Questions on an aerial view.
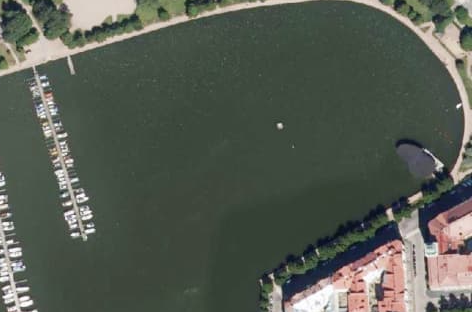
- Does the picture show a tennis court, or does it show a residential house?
residential house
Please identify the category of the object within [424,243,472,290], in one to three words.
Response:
house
